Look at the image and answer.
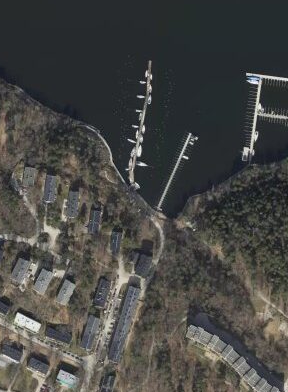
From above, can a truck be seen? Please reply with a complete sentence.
No, there appears to be no truck in this shot.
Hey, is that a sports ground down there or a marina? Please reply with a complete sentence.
This image shows a marina.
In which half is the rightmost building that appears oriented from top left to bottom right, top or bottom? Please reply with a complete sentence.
You can find the rightmost building that appears oriented from top left to bottom right in the bottom half.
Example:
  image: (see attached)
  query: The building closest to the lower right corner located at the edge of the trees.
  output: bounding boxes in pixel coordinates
[185,325,279,392]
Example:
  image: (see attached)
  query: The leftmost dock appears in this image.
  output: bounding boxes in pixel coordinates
[130,60,151,189]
